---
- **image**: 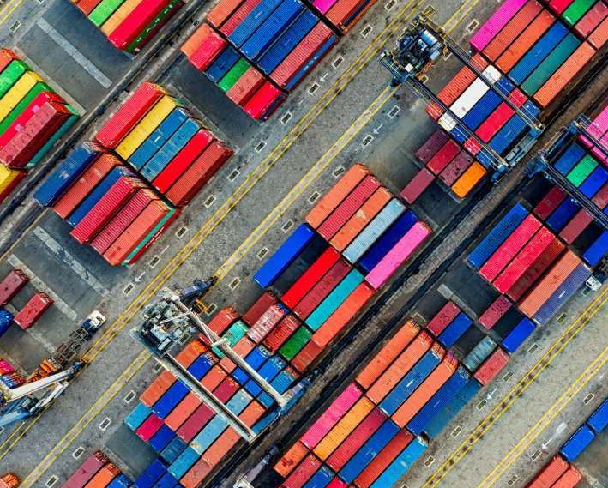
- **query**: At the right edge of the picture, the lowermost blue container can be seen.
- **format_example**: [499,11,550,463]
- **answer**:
[561,422,596,461]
